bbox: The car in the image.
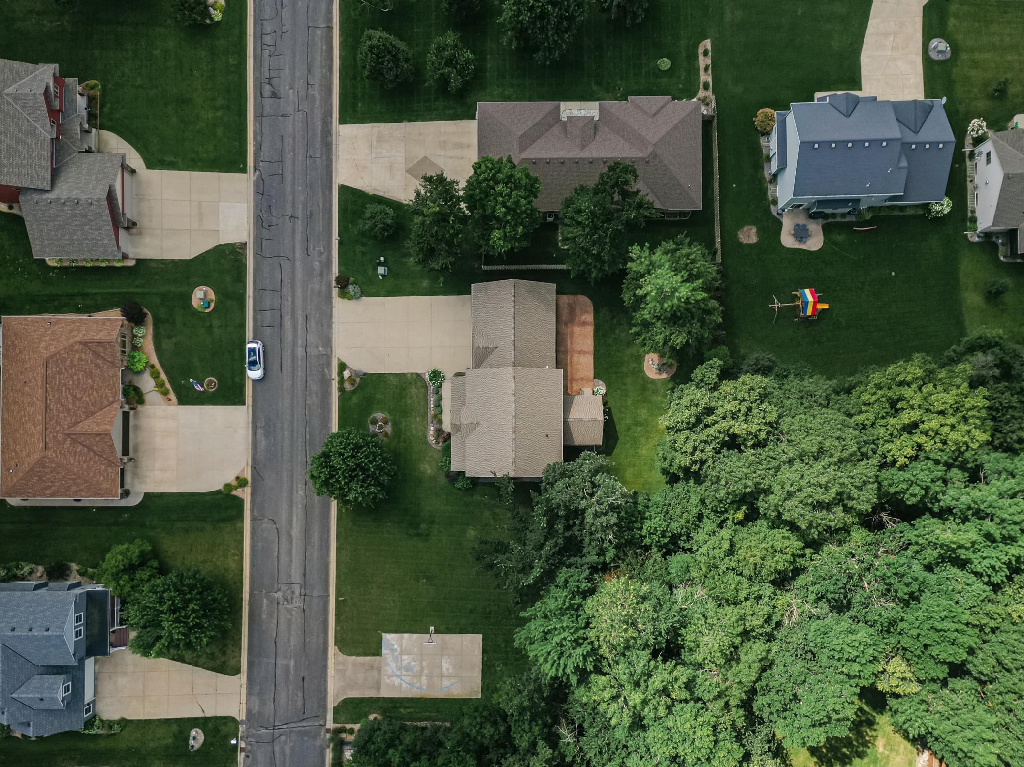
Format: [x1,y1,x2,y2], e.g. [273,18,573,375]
[245,339,266,379]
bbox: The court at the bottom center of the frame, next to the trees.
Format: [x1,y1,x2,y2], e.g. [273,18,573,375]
[381,633,485,698]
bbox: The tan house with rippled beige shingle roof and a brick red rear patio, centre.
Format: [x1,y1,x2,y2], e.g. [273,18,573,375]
[451,279,604,478]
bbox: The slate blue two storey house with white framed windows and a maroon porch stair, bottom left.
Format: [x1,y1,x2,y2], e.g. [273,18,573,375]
[0,580,132,737]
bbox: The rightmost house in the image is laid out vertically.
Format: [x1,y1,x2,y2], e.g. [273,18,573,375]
[963,128,1024,254]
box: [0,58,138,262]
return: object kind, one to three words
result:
house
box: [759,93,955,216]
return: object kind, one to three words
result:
house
